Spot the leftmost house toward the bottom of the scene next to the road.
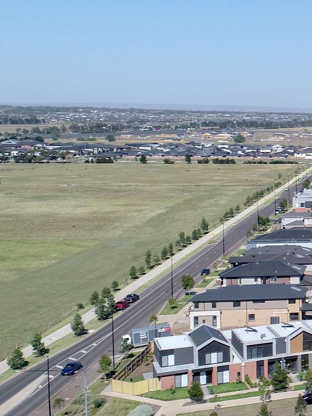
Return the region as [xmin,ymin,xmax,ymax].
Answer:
[154,319,238,390]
